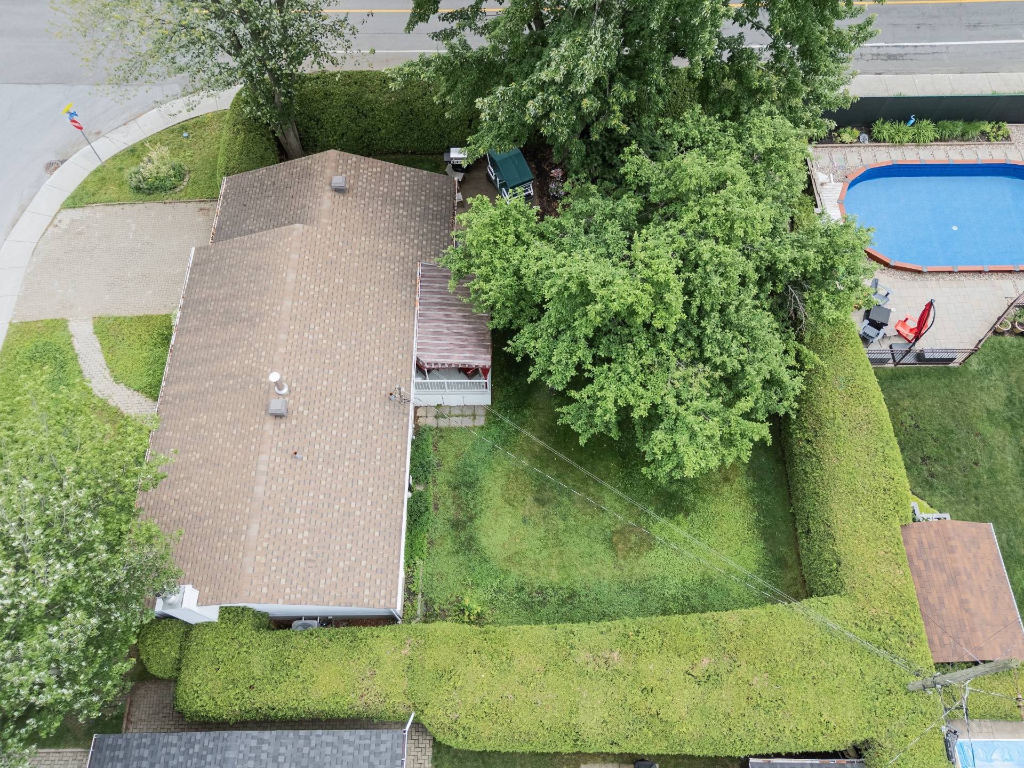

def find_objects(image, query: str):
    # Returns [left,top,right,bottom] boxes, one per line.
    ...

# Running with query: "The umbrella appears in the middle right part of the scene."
[895,300,935,361]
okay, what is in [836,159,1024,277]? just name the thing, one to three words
swimming pool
